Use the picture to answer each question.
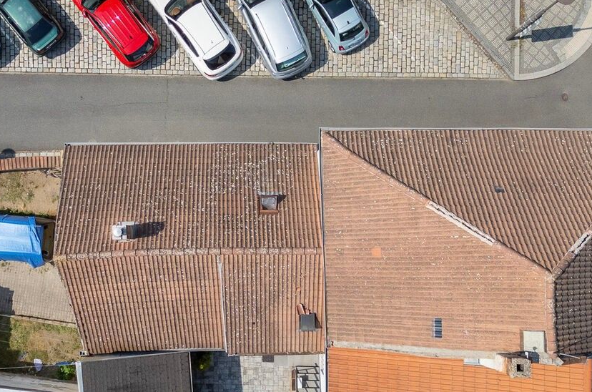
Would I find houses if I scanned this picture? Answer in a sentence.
Yes, you can see a house in this photo.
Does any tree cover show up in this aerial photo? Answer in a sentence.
No, there's no tree cover in this view.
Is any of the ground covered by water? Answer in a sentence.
No, there is no water in the image.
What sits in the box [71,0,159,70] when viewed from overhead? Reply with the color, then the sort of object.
red car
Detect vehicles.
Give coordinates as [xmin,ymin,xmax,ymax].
[149,0,244,80]
[71,0,159,70]
[302,0,371,55]
[0,0,65,58]
[231,0,313,80]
